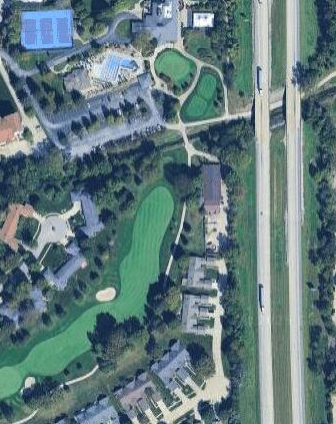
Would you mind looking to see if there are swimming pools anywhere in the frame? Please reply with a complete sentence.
Yes, the frame does contain a swimming pool.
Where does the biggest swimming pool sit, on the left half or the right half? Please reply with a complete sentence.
The biggest swimming pool appears in the left half of the scene.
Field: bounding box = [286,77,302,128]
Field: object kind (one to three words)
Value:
bridge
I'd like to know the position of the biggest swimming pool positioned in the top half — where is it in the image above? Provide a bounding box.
[97,55,122,83]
